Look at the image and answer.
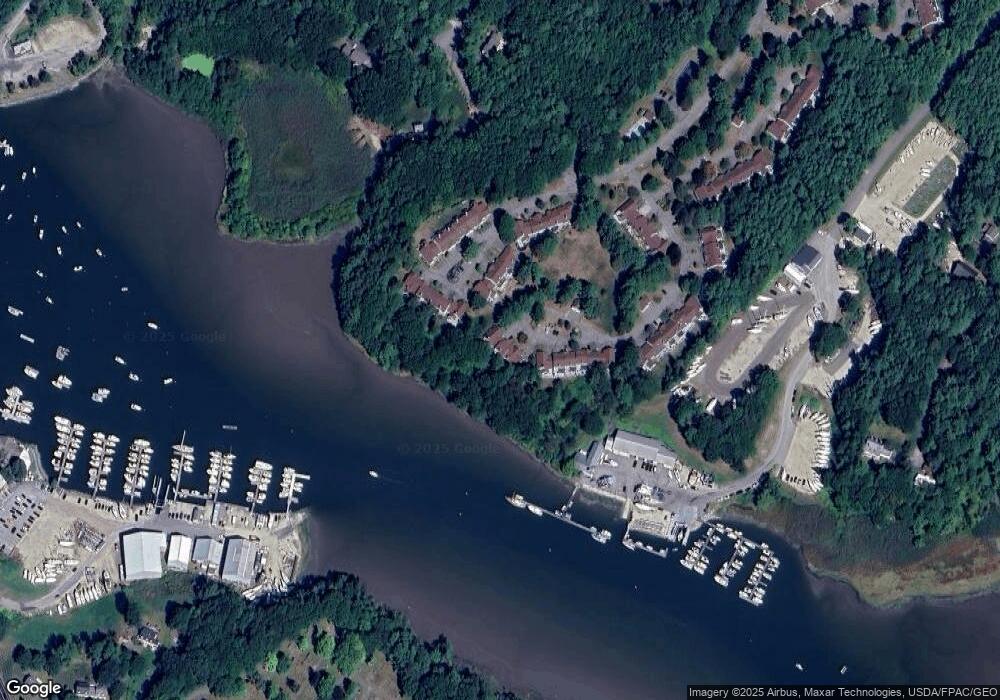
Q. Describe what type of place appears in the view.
port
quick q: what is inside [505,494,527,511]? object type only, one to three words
boat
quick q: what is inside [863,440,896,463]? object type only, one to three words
house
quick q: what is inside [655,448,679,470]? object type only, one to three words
building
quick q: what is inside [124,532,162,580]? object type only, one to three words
shed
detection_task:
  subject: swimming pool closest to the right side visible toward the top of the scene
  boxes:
[620,116,648,139]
